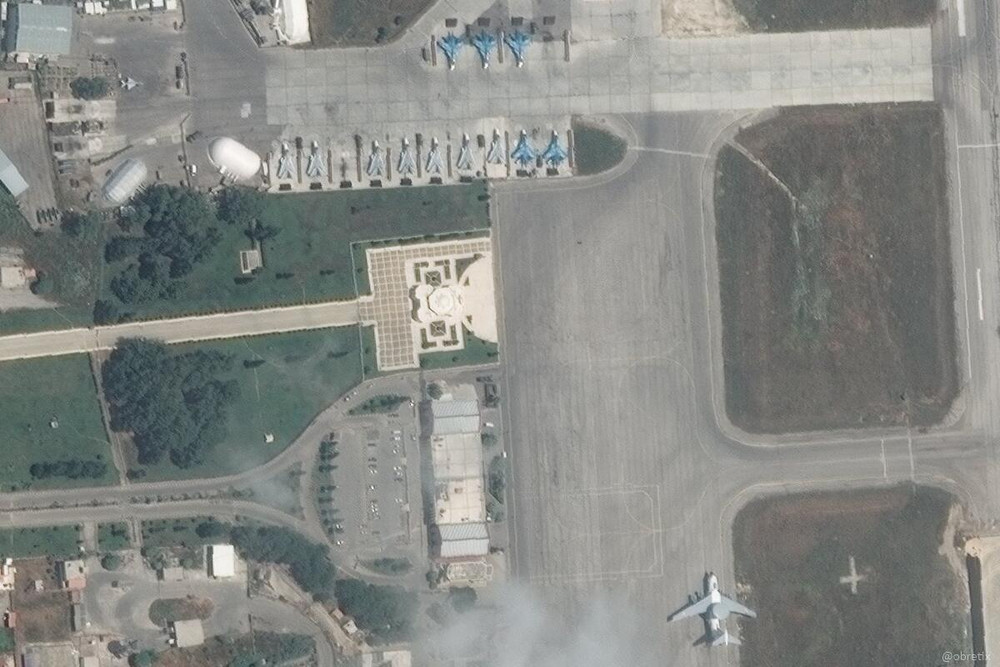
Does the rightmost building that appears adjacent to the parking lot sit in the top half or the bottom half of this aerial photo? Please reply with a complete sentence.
It is in the bottom half that the rightmost building that appears adjacent to the parking lot appears.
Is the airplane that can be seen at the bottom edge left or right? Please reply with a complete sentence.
The airplane that can be seen at the bottom edge sits on the right side.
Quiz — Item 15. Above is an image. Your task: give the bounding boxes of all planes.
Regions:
[438,31,464,70]
[429,137,446,172]
[472,30,497,69]
[543,132,566,167]
[675,572,758,646]
[459,134,478,169]
[278,143,297,178]
[398,138,417,173]
[490,129,508,164]
[369,140,388,175]
[308,141,326,176]
[513,132,537,167]
[504,29,529,67]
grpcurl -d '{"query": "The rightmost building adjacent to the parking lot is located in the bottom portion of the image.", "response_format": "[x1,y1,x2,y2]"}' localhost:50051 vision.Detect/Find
[425,399,490,558]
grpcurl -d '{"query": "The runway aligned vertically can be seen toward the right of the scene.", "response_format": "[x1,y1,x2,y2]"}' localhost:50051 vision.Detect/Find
[929,0,1000,514]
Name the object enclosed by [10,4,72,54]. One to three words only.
hangar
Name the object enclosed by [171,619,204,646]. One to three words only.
house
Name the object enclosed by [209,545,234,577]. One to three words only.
house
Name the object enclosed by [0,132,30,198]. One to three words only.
building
